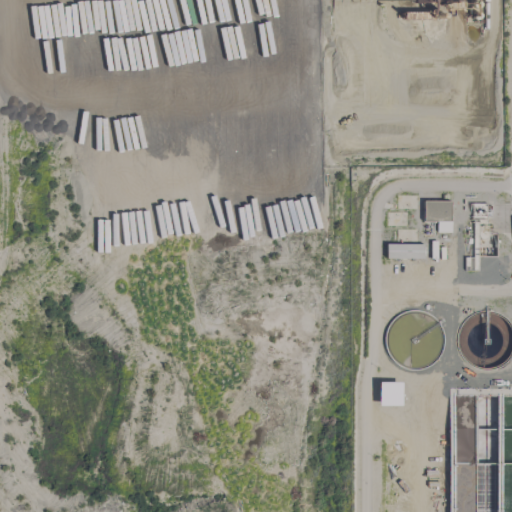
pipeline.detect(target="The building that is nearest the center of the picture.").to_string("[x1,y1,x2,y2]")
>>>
[389,244,428,259]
